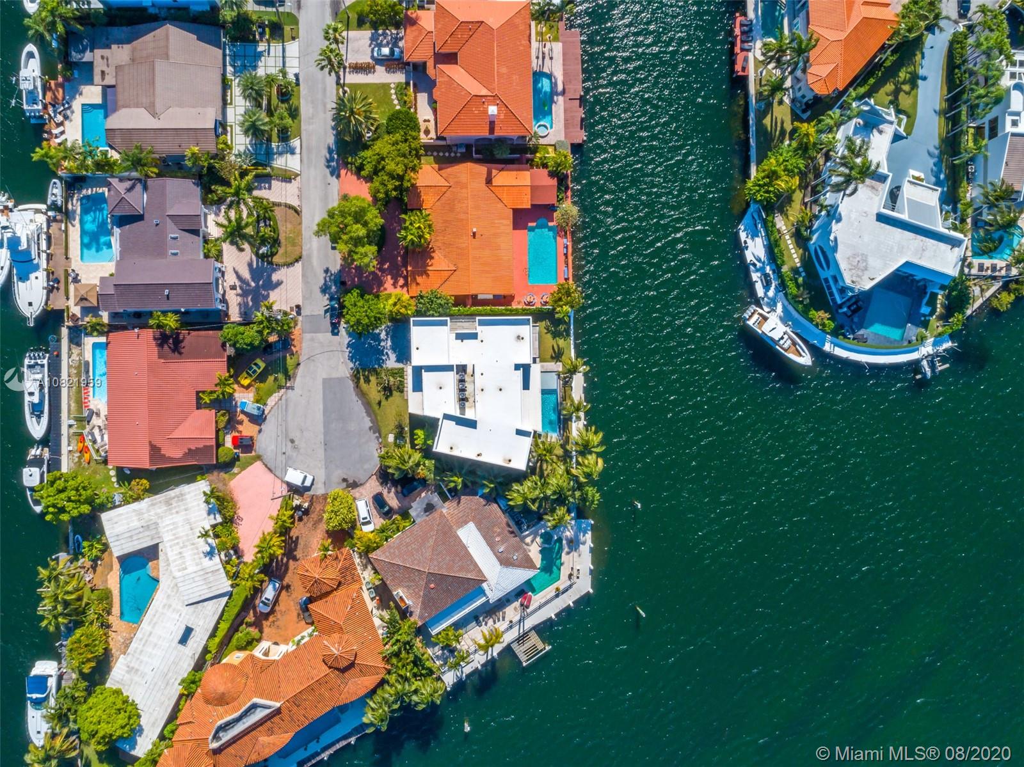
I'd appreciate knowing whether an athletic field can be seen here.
No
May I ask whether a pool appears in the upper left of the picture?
Yes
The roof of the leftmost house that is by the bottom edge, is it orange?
No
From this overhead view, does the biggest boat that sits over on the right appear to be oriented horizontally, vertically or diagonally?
diagonally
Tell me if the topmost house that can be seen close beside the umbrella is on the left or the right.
left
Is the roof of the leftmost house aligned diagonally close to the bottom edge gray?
No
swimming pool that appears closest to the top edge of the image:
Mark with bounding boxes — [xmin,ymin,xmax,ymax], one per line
[759,0,786,41]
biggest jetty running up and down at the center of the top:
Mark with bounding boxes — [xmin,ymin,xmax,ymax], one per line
[559,11,584,145]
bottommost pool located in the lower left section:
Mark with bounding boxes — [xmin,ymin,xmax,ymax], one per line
[118,553,160,626]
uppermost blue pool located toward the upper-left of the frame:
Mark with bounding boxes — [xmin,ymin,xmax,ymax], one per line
[79,101,113,152]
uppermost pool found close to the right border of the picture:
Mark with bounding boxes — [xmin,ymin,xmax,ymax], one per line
[969,222,1024,262]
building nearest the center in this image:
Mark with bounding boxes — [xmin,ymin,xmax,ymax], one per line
[404,317,541,470]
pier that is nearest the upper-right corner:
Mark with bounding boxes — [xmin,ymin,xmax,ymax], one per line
[734,16,749,76]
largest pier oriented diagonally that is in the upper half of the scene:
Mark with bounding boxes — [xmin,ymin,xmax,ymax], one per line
[736,204,952,364]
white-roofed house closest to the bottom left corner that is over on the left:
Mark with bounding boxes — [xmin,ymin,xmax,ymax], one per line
[102,480,231,755]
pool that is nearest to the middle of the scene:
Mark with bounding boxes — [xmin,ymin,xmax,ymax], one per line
[539,369,561,437]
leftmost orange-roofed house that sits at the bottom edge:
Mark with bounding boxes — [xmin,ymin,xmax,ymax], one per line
[157,547,385,767]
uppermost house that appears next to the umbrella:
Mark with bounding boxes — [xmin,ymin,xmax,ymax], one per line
[97,178,225,311]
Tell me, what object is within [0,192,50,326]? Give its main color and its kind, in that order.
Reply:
white boat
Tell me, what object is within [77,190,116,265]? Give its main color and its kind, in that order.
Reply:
blue swimming pool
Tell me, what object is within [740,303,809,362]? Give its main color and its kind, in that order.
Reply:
white boat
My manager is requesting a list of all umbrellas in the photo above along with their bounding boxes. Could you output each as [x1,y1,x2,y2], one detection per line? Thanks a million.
[74,284,98,307]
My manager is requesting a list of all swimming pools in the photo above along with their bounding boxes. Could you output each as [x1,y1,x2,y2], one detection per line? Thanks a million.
[89,340,108,406]
[526,216,559,286]
[759,0,786,41]
[539,369,561,437]
[79,101,113,152]
[77,190,116,265]
[118,553,160,626]
[864,285,913,342]
[520,531,564,597]
[532,69,555,137]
